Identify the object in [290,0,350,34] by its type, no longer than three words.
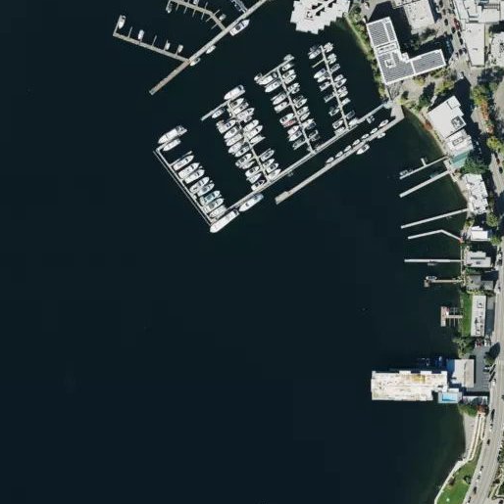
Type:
building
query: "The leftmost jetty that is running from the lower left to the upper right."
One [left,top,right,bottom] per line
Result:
[150,0,273,95]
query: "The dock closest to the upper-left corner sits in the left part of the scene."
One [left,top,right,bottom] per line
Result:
[114,22,188,61]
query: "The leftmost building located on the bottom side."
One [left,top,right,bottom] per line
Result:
[371,371,447,401]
